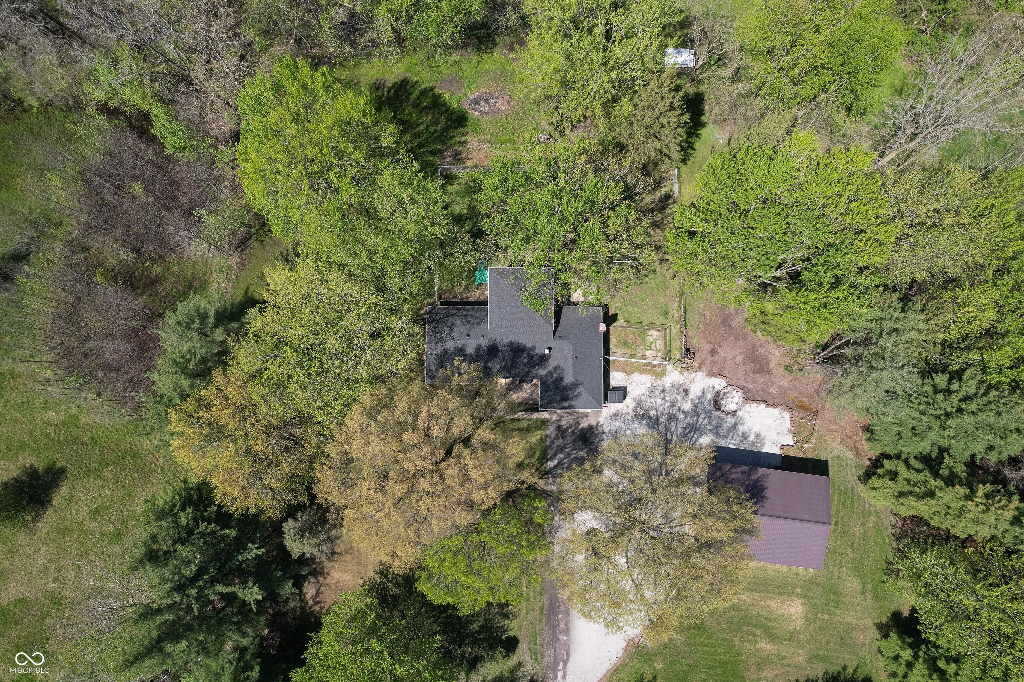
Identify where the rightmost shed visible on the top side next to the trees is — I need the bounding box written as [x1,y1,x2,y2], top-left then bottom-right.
[662,48,695,74]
